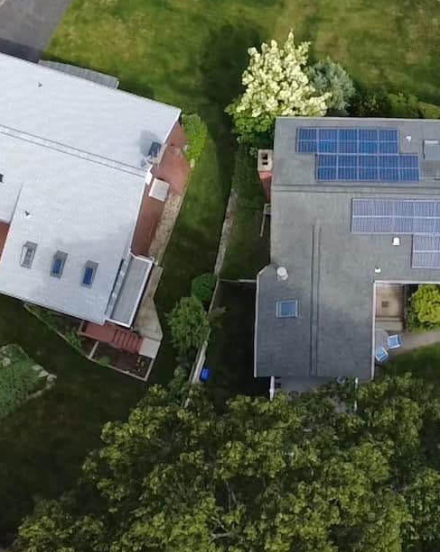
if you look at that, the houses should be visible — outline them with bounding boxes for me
[253,117,440,415]
[0,51,190,362]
